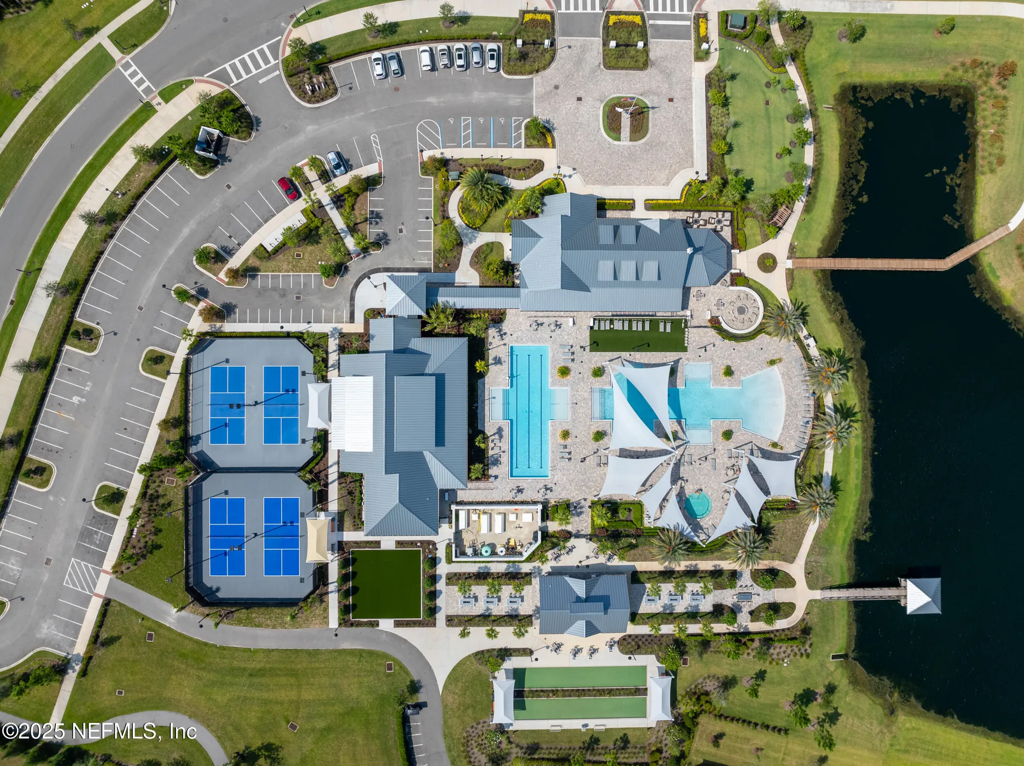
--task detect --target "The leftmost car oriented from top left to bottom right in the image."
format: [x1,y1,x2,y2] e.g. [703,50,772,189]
[277,175,299,202]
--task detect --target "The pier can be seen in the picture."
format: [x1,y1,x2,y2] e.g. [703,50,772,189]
[819,588,905,602]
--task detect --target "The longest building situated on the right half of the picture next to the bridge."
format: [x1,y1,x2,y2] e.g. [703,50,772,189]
[512,192,727,312]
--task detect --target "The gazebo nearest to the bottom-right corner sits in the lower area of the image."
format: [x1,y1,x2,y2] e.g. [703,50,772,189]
[897,575,942,615]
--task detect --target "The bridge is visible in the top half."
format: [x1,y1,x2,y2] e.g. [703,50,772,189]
[790,222,1017,271]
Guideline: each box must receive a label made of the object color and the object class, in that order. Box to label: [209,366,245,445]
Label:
blue sports court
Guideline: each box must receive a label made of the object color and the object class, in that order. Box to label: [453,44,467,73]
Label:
white car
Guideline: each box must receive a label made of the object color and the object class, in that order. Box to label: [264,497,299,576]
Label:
blue sports court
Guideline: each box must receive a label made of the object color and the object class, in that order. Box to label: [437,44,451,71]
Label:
white car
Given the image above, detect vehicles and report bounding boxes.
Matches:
[437,44,451,71]
[407,704,421,716]
[371,52,386,81]
[387,51,402,80]
[485,44,499,74]
[453,44,467,73]
[470,43,483,69]
[327,148,346,178]
[277,175,299,202]
[418,45,433,75]
[800,332,818,349]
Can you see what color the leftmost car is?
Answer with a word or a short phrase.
red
